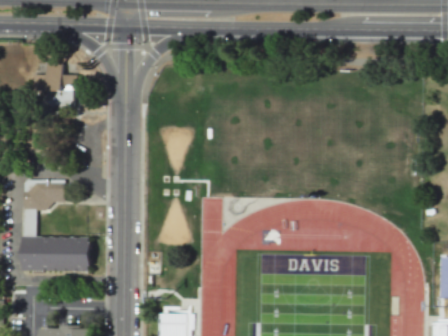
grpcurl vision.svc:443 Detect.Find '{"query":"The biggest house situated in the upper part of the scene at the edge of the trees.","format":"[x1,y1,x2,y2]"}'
[38,64,78,94]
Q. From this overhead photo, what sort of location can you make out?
sports ground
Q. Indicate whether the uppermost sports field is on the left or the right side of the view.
right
